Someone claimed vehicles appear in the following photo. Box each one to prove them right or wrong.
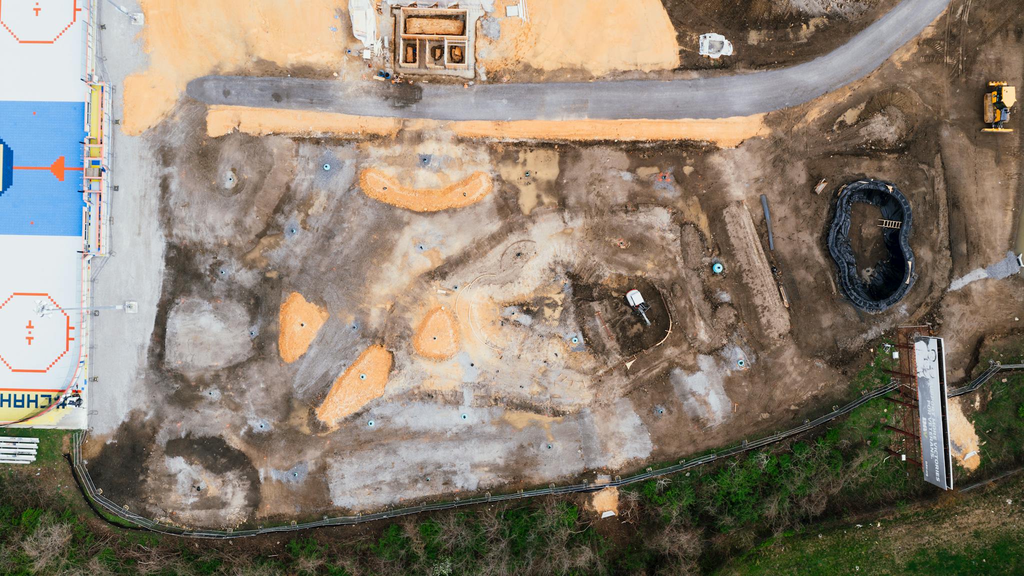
[976,82,1019,132]
[623,288,650,326]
